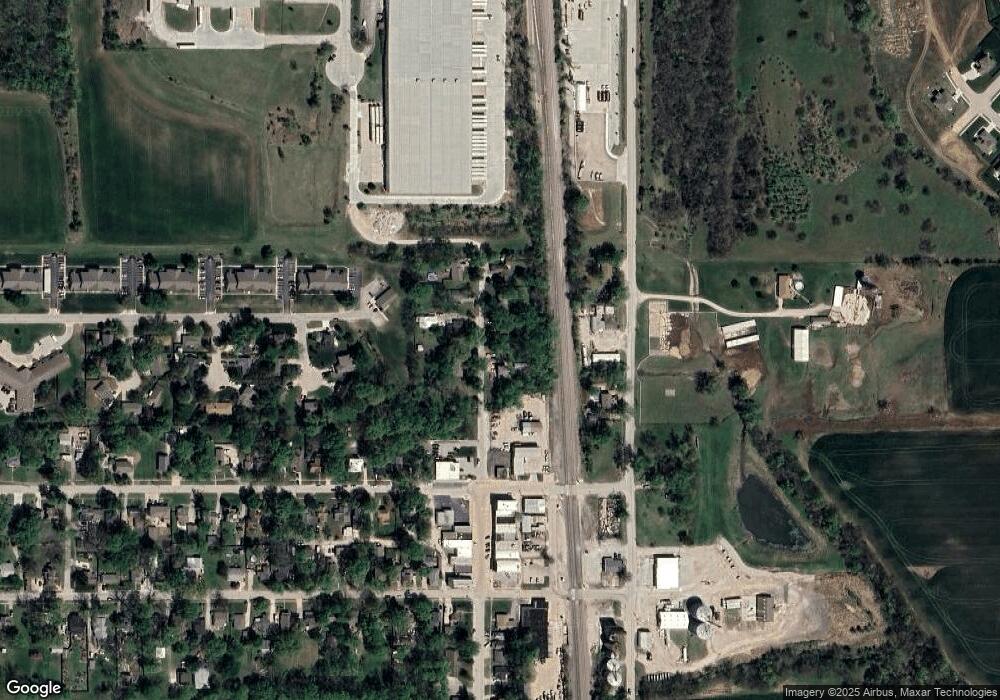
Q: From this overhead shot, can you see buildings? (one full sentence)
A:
Yes, there's a building down there.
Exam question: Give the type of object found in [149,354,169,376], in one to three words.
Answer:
house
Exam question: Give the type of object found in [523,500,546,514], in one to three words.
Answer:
shed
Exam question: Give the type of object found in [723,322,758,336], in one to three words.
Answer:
barn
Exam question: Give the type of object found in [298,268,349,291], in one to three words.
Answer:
building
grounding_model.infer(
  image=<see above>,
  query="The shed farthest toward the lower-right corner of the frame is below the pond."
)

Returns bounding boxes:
[757,596,775,622]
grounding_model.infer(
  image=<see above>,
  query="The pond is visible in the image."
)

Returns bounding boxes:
[737,474,809,550]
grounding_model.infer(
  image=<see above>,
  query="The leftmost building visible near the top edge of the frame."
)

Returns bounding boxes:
[388,0,473,195]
